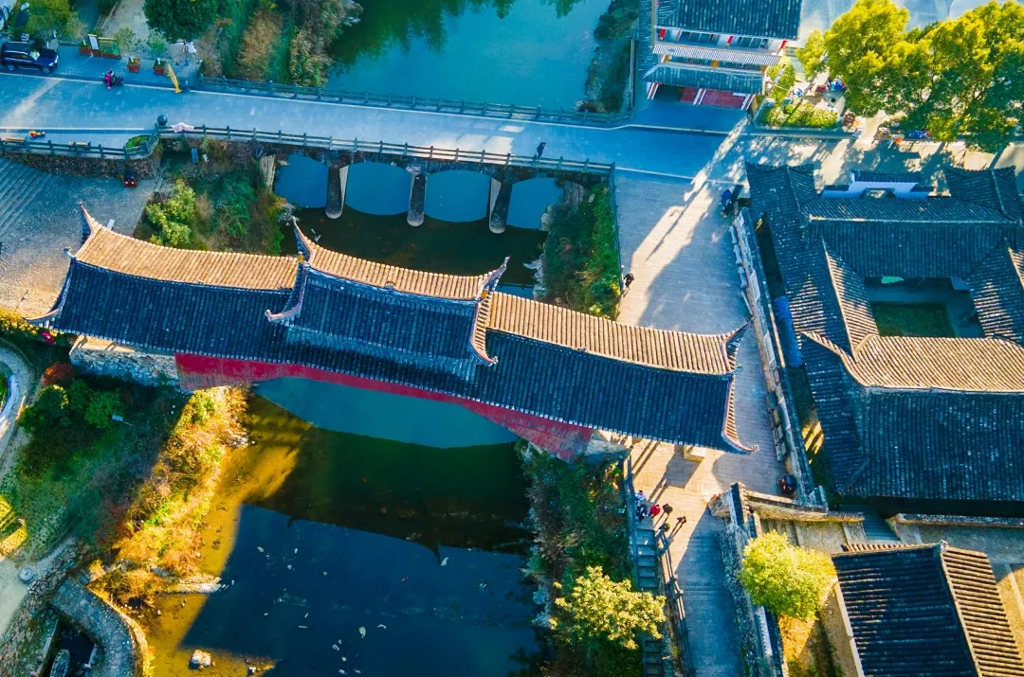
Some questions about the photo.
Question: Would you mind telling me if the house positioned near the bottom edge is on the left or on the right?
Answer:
right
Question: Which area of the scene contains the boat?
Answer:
bottom left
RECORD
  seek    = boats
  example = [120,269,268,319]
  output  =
[46,630,74,677]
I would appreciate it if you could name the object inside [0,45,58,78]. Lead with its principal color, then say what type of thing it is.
blue car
